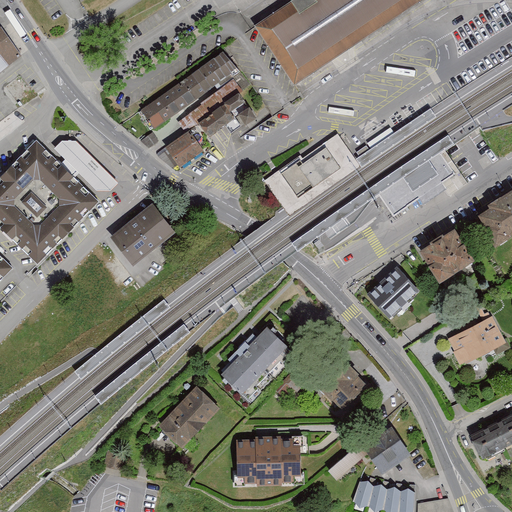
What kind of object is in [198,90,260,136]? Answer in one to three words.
house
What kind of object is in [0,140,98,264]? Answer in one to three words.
building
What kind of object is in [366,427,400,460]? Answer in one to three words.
house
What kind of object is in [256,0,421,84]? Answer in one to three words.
building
